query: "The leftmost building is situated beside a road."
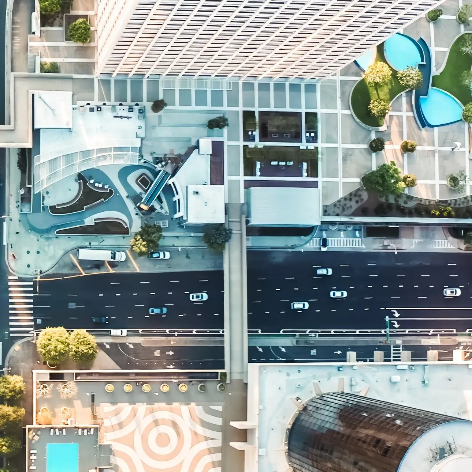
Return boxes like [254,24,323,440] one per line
[32,90,146,197]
